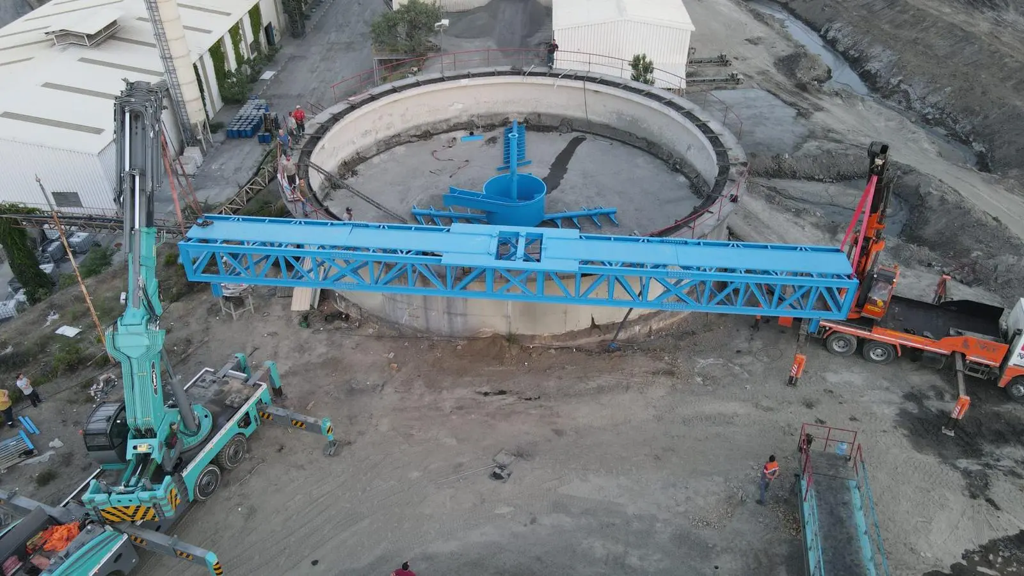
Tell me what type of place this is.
industrial area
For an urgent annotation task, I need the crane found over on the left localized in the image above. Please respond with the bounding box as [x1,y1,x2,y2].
[0,84,341,576]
